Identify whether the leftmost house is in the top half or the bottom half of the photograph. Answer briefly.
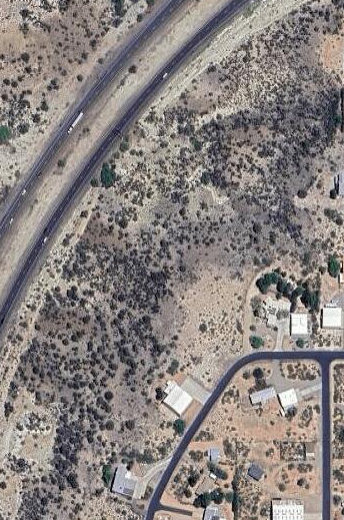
bottom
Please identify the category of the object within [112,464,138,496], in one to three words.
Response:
house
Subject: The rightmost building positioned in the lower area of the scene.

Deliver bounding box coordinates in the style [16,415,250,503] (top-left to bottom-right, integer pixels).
[323,307,342,328]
